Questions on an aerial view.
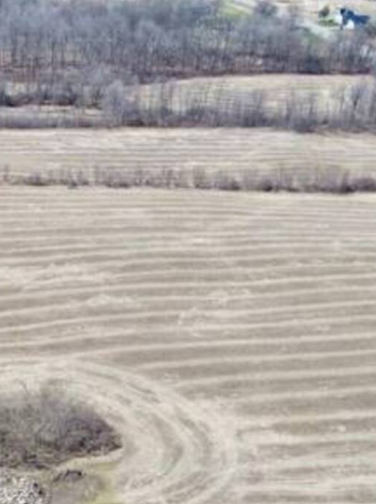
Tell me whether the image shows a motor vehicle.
No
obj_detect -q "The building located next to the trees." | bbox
[340,10,376,29]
